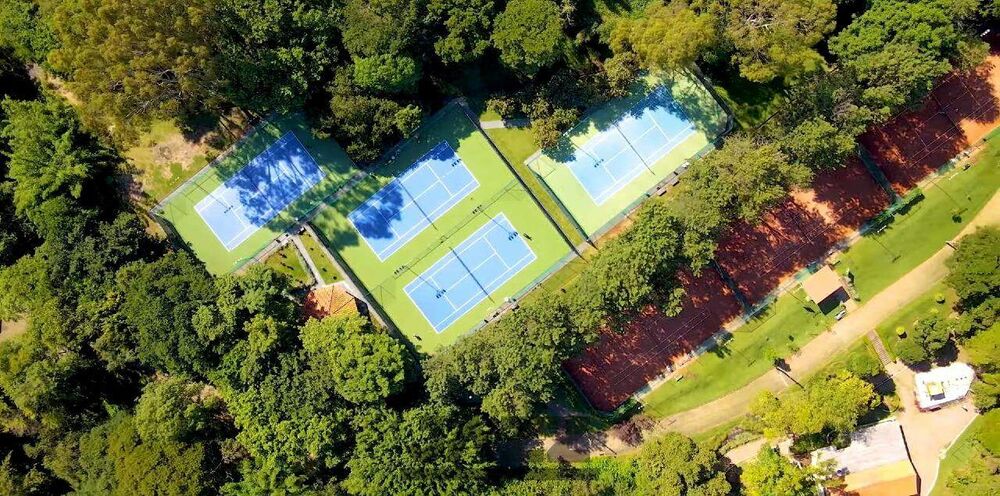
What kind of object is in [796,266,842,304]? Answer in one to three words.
shed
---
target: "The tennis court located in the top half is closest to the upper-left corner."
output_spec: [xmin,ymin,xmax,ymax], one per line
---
[163,105,357,273]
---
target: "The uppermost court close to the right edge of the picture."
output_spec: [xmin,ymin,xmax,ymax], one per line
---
[852,19,1000,197]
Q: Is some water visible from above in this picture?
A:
No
